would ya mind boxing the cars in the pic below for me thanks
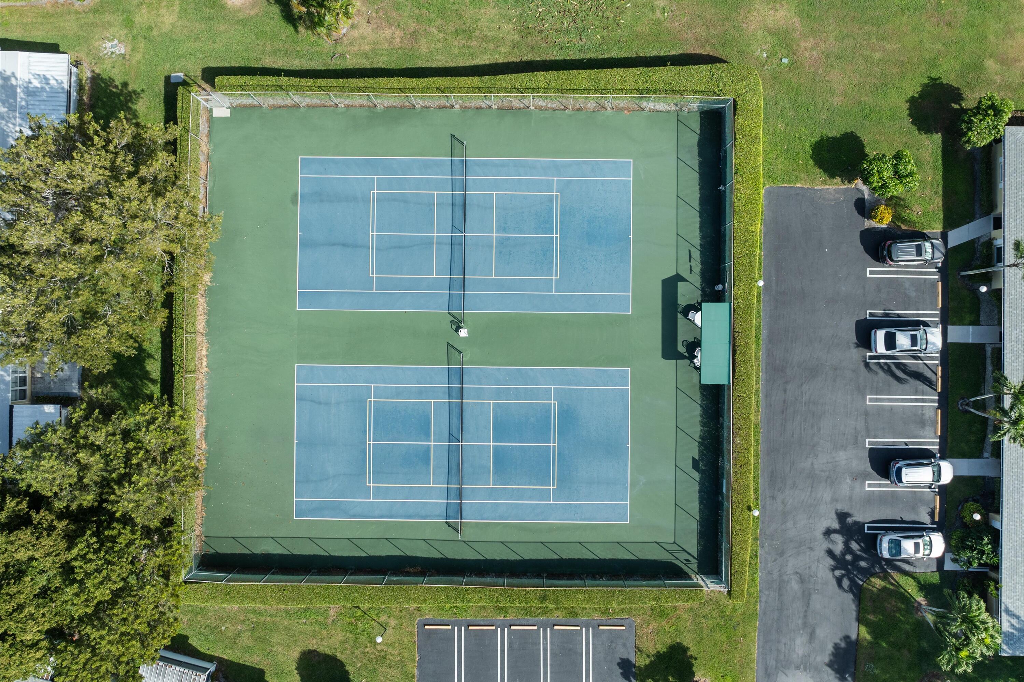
[877,234,946,268]
[887,457,954,490]
[869,324,943,357]
[875,529,946,562]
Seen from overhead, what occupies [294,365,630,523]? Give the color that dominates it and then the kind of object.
blue tennis court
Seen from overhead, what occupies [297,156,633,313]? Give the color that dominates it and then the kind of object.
blue tennis court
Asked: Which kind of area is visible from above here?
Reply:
sports ground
